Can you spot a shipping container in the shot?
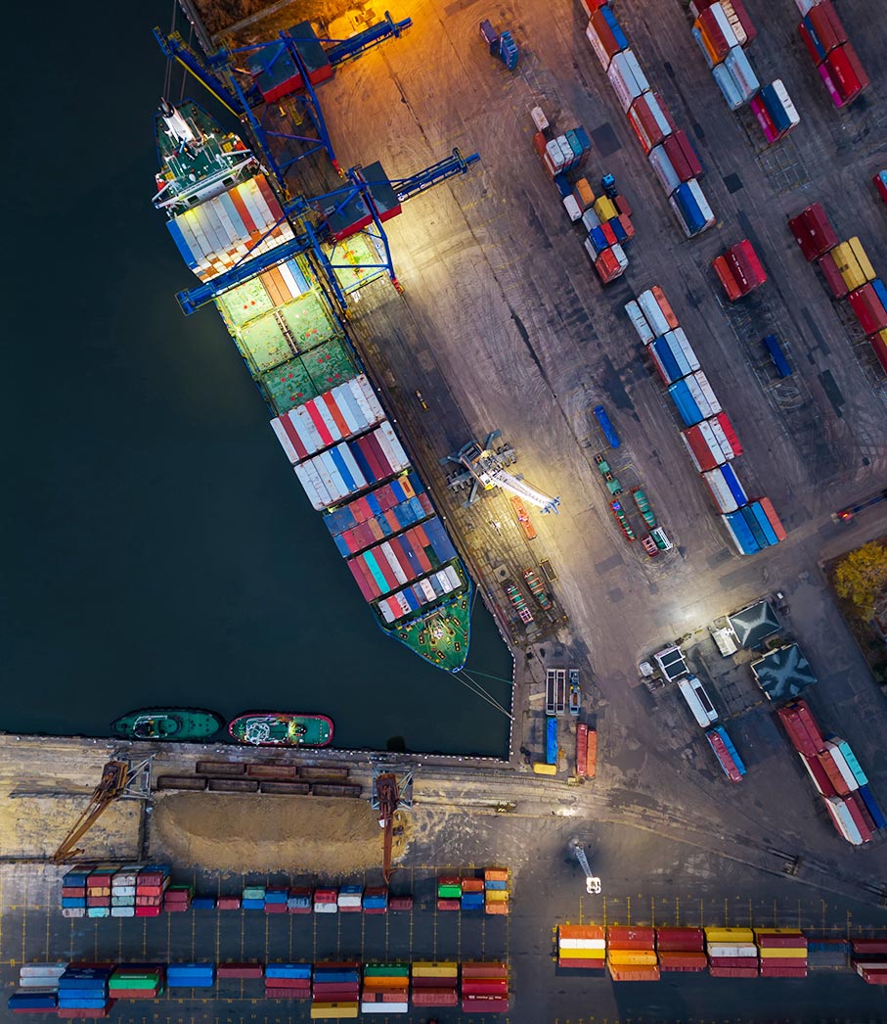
Yes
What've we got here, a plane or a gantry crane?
gantry crane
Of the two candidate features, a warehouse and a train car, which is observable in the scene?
train car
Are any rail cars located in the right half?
No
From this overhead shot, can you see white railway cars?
No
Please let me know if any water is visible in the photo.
Yes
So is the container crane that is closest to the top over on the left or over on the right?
left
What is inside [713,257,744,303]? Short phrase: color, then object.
red shipping container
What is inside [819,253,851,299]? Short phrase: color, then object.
red shipping container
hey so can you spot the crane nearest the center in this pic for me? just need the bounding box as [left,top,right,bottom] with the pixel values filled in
[436,426,559,516]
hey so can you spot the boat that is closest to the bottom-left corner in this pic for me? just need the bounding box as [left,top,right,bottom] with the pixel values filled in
[110,709,221,742]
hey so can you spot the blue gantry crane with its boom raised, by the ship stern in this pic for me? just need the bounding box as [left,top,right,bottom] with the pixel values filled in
[145,1,411,197]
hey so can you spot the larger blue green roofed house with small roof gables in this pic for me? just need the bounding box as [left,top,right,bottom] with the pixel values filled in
[748,642,817,700]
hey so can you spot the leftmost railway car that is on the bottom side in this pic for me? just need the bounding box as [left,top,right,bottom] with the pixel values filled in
[153,778,205,794]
